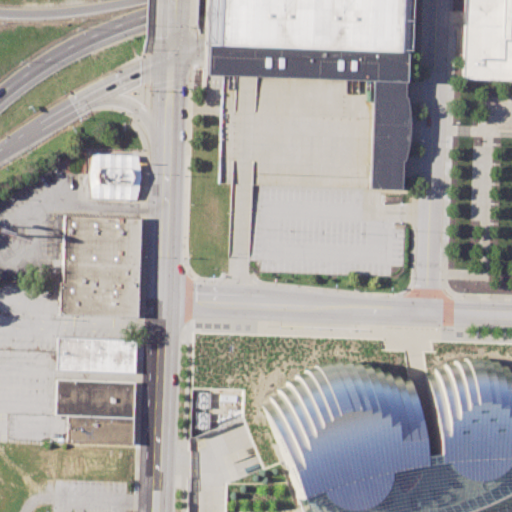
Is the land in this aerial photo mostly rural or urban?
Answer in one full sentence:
The area shown here is urban.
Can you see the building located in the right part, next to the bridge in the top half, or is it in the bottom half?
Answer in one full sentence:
Seen from above, the building located in the right part, next to the bridge lies in the top half of the view.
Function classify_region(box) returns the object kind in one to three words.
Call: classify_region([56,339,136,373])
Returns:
building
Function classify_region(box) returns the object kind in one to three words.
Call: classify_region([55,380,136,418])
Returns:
building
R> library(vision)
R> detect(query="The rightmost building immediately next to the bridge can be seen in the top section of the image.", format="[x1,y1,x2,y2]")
[202,0,415,190]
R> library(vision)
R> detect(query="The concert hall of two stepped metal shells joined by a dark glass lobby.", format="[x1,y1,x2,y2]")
[264,358,512,512]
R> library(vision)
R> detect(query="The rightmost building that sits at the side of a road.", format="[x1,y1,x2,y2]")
[462,0,512,82]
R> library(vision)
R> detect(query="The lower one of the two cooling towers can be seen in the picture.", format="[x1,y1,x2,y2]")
[196,412,210,430]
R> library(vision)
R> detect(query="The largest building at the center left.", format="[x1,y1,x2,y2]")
[61,216,141,318]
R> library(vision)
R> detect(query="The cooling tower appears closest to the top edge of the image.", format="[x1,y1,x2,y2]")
[196,392,210,409]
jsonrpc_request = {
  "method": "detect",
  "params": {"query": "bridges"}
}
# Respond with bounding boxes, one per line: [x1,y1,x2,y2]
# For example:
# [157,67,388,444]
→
[144,0,200,57]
